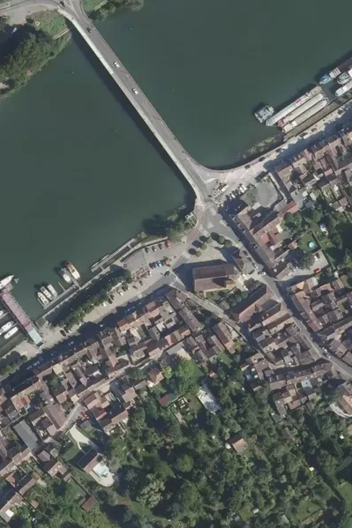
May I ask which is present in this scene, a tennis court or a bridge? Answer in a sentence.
There is a bridge in the scene.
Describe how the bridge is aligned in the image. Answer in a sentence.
In this picture, the bridge lies at an angle.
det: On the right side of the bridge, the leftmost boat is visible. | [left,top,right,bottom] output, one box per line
[255,104,275,121]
